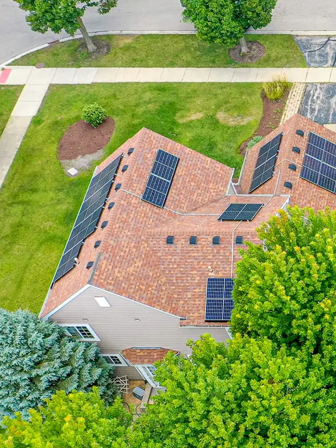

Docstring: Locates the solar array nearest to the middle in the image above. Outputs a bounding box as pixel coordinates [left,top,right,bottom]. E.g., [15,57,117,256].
[149,148,183,206]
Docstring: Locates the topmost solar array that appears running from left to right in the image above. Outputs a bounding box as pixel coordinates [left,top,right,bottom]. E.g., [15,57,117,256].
[219,203,268,217]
